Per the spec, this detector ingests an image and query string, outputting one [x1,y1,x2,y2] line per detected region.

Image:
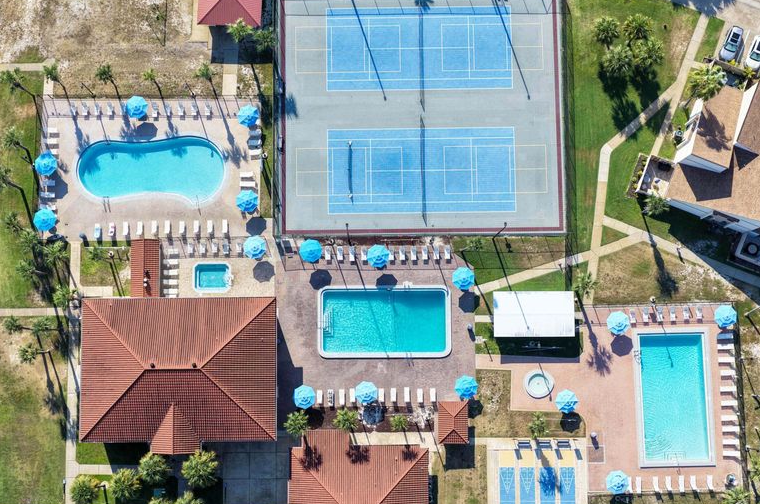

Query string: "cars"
[720,23,745,61]
[745,33,760,71]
